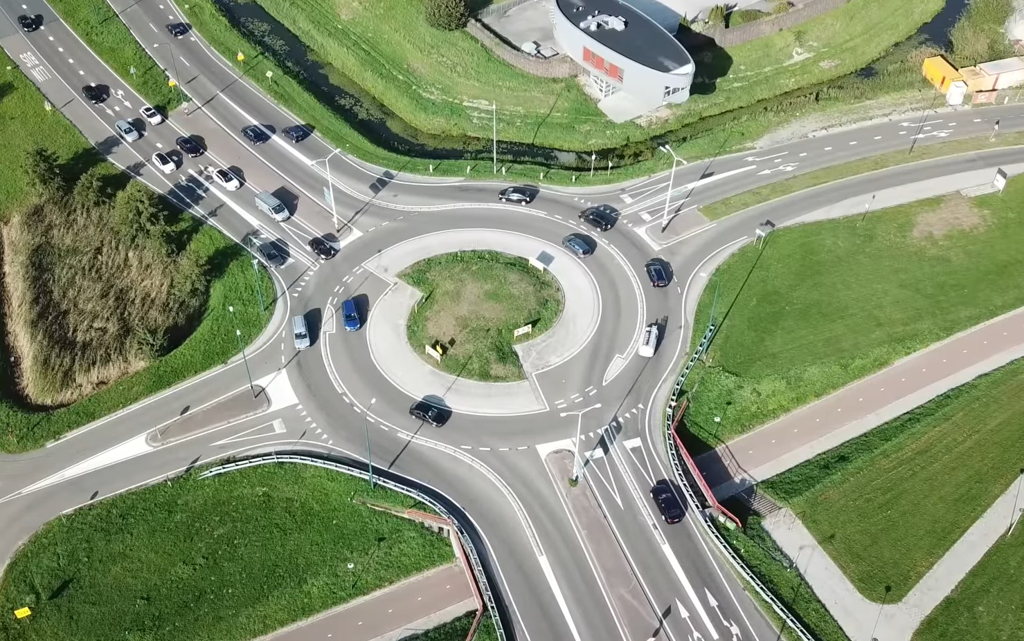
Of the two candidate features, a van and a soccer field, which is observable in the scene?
van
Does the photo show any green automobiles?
No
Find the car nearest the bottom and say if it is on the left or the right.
right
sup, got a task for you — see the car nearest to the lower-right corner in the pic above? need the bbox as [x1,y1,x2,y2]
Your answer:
[648,485,684,526]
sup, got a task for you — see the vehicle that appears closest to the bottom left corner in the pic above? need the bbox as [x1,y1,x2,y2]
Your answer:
[290,317,311,351]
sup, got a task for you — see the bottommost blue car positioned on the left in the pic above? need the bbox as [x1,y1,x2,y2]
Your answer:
[341,299,362,333]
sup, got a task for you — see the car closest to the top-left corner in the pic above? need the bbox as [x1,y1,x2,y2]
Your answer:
[19,17,35,32]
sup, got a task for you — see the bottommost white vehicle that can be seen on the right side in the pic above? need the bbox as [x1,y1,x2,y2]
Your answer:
[636,322,661,358]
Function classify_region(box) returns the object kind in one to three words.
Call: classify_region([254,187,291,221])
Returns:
van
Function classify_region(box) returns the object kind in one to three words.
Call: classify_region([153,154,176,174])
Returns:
car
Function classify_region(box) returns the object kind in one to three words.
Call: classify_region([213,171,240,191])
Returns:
car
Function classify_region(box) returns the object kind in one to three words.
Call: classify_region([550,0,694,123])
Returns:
building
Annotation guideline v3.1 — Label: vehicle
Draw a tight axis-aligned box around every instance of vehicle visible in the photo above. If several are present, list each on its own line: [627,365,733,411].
[308,238,335,261]
[636,322,661,358]
[254,187,291,221]
[141,107,162,125]
[647,264,667,289]
[213,171,240,191]
[255,244,285,268]
[153,154,176,174]
[290,317,311,351]
[648,485,684,526]
[242,128,267,145]
[283,128,305,144]
[499,191,531,207]
[176,139,201,158]
[116,122,138,142]
[84,85,105,104]
[19,17,35,32]
[341,299,362,333]
[560,237,593,259]
[577,212,612,233]
[406,403,447,431]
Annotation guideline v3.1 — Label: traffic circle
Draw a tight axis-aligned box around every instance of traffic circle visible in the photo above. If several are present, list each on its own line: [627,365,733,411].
[62,166,687,641]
